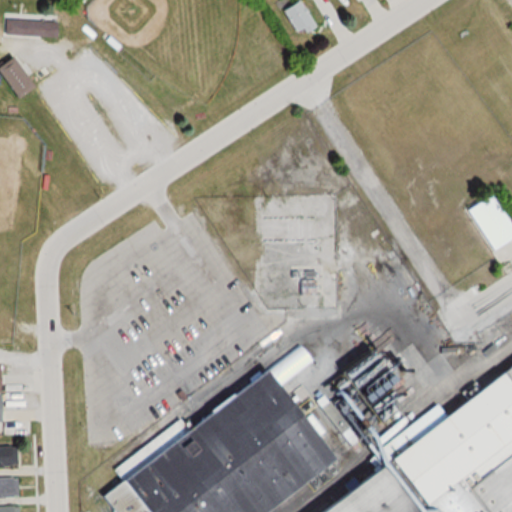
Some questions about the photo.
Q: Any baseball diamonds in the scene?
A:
Yes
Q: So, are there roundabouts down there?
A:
No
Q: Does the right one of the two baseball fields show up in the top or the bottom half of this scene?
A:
top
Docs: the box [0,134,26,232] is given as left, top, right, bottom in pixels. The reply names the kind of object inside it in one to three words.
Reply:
baseball field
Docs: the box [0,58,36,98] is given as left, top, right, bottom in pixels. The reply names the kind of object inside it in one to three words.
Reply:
building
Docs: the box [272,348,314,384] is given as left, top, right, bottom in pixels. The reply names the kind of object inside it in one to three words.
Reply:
shed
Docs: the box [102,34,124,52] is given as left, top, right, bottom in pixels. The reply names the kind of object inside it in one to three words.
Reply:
vehicle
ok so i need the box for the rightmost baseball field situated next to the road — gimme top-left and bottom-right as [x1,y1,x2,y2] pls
[86,0,240,106]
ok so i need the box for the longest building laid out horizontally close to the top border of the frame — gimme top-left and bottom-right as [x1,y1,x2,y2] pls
[5,18,60,38]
